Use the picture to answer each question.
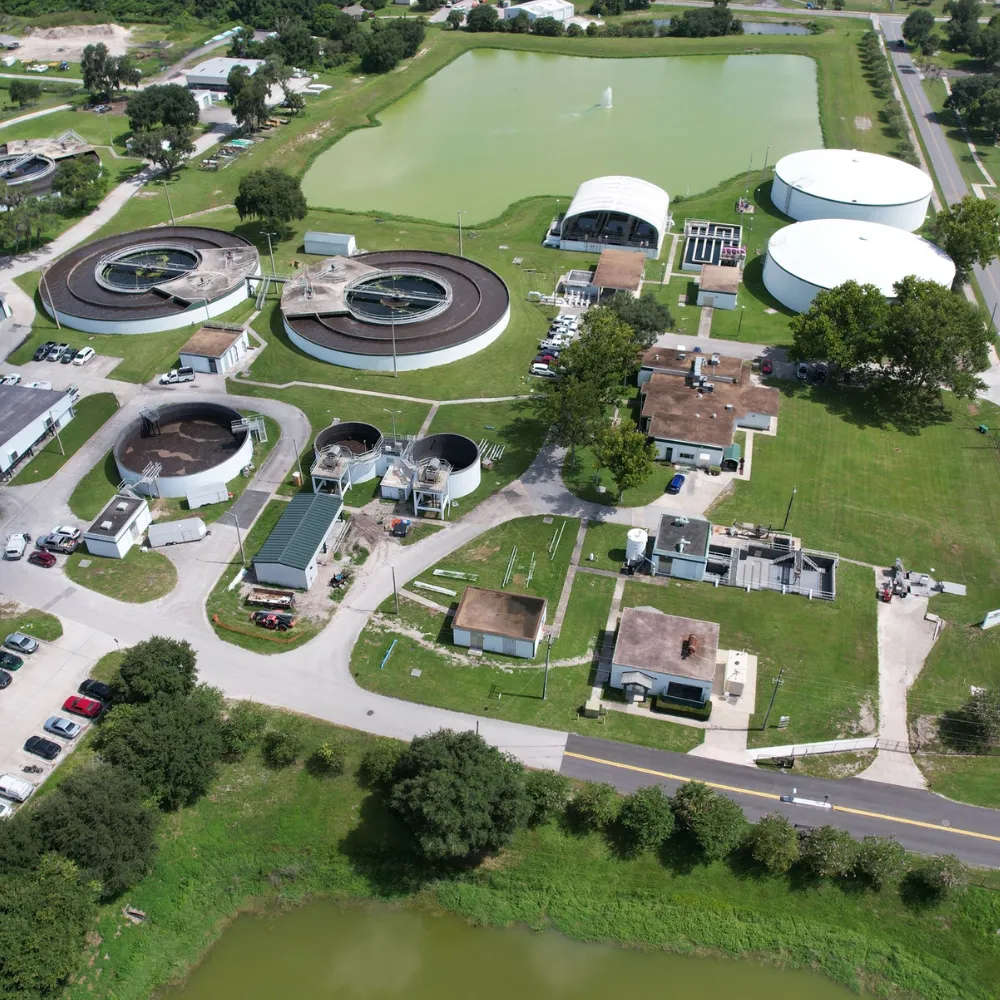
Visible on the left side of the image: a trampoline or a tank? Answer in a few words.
tank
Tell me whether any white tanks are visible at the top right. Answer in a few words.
Yes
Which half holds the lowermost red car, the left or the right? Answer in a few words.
left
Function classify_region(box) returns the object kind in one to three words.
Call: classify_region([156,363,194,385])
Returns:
truck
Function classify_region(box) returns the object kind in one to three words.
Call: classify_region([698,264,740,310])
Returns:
building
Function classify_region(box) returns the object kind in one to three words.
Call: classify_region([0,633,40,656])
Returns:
car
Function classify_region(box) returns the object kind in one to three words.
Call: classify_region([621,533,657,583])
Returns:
silo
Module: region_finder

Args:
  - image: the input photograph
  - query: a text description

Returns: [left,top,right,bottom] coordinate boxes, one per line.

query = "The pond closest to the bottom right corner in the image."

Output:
[148,896,874,1000]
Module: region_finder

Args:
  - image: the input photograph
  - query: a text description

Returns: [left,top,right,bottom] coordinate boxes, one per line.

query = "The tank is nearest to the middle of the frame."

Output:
[408,433,480,521]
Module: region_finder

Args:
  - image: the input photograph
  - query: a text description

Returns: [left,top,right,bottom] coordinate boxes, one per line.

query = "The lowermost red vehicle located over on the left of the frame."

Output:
[60,696,104,720]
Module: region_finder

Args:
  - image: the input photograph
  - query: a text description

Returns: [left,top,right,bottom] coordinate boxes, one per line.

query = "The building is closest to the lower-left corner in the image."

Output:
[84,498,147,557]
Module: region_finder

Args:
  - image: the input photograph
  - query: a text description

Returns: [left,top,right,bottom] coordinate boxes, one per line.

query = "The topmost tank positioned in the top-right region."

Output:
[771,148,934,226]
